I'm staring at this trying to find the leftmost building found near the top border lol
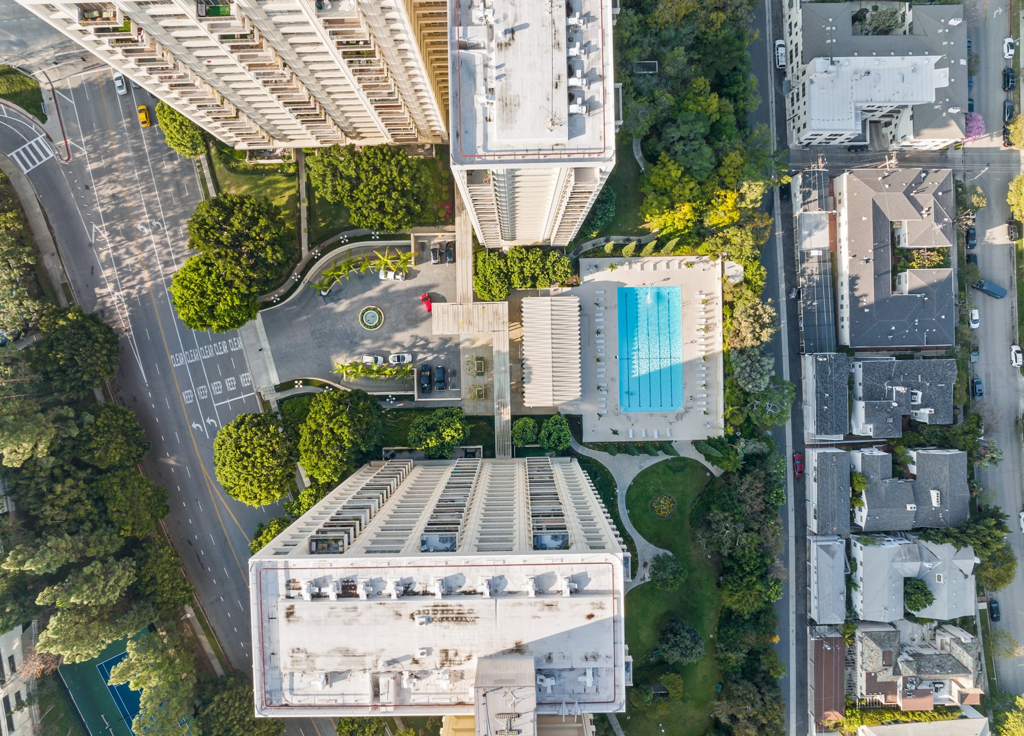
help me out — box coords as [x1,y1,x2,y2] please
[31,0,626,253]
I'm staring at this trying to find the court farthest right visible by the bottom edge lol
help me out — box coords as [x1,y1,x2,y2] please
[96,647,188,736]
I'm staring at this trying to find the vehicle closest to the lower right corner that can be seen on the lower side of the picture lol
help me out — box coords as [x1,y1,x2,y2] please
[987,598,1000,622]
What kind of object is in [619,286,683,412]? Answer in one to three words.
swimming pool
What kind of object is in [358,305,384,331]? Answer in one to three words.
fountain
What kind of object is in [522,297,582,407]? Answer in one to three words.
building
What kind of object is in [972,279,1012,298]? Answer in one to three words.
vehicle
